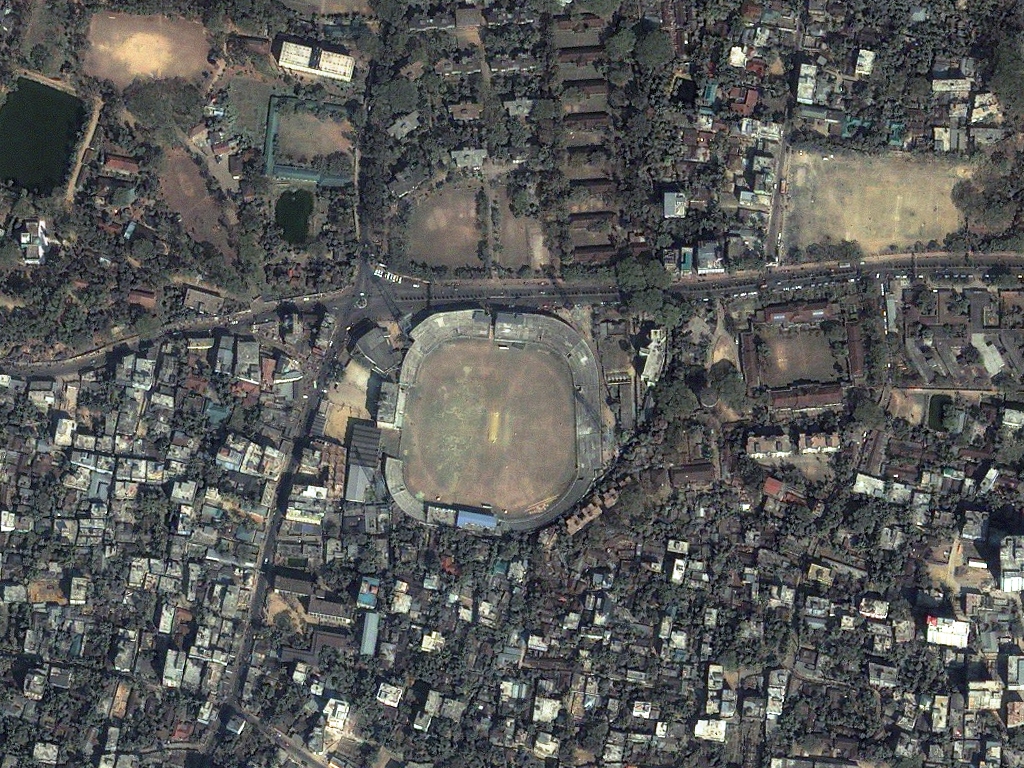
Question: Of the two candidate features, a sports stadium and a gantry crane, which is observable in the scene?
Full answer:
Of the two, only a sports stadium appears.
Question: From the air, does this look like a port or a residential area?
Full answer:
What you see here is a residential area.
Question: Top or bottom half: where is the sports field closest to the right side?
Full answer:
You can find the sports field closest to the right side in the top half.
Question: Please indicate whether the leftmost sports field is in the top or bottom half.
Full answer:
The leftmost sports field sits in the top half of the picture.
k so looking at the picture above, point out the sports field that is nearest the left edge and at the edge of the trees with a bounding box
[84,10,211,95]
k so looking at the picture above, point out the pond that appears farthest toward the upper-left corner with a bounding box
[0,79,85,188]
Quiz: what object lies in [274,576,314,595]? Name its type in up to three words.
shed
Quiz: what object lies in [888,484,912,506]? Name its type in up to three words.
house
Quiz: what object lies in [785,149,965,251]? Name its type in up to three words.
sports field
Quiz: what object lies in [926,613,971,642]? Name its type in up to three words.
building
